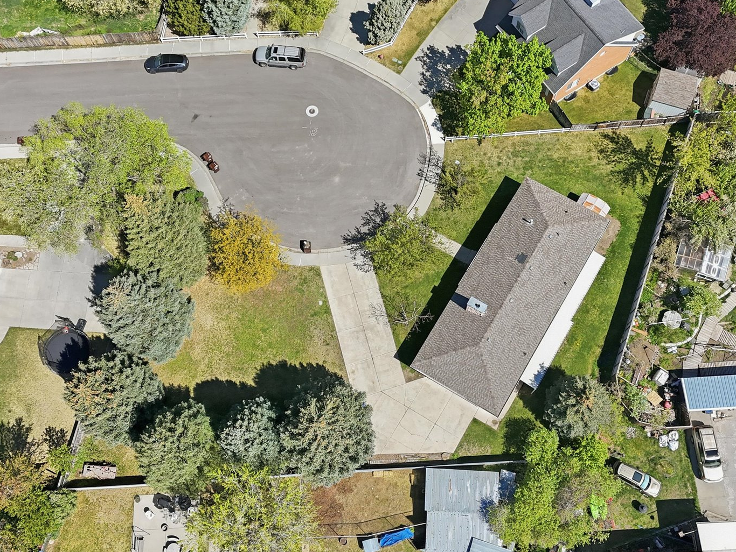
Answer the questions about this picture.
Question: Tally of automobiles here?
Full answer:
The photo contains 4 automobiles.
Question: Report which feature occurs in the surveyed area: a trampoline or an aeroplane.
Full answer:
The image shows a trampoline.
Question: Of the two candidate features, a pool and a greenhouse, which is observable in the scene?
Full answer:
The one in the frame is a greenhouse.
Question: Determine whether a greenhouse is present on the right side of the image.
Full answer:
Yes, a greenhouse appears on the right side of the image.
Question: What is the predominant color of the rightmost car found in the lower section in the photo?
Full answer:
The rightmost car found in the lower section looks white in the image.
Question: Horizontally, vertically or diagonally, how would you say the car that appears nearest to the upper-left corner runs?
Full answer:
From this overhead view, the car that appears nearest to the upper-left corner appears to run horizontally.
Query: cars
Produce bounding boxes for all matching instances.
[141,49,188,72]
[251,42,306,69]
[692,426,725,483]
[609,456,662,500]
